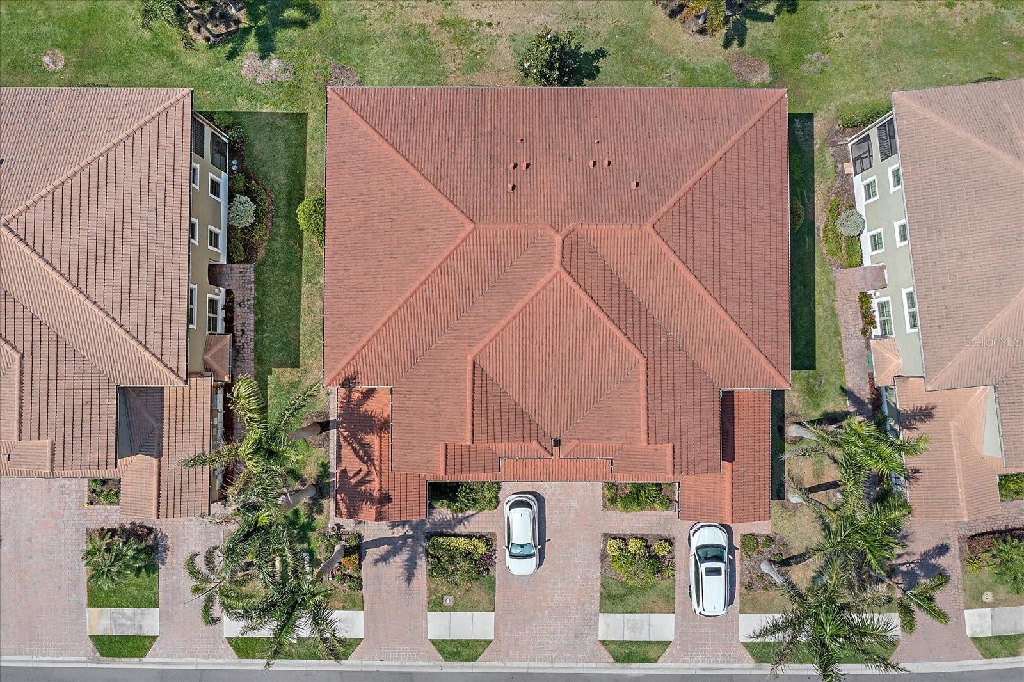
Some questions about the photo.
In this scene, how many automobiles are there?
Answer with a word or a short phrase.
2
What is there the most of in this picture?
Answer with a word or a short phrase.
buildings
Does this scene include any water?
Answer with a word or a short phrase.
No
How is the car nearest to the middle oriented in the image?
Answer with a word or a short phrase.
up and down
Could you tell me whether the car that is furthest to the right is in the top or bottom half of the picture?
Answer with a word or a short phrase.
bottom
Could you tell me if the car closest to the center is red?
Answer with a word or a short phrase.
No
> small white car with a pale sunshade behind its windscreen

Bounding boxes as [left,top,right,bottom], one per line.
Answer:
[501,491,544,574]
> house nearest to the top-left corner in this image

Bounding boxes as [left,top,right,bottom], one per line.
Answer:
[0,84,233,523]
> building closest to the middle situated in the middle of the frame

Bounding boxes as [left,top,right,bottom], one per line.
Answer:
[324,87,790,525]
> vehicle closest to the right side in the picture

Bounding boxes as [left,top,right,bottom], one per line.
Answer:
[687,522,734,619]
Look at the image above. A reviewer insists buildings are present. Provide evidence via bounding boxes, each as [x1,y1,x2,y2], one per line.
[324,87,790,525]
[0,84,233,523]
[849,76,1024,521]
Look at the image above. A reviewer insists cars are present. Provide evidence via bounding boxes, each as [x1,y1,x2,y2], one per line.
[501,491,544,574]
[687,522,734,619]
